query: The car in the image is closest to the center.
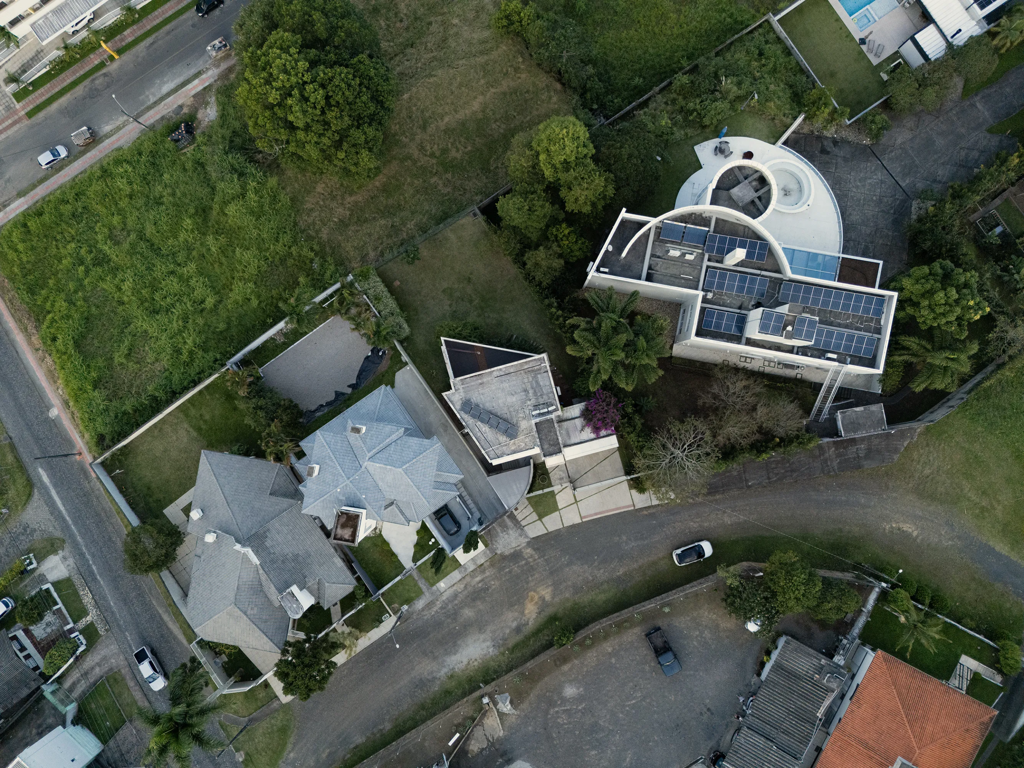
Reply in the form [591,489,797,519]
[434,502,464,542]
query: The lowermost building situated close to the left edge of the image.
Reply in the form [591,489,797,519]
[7,724,105,768]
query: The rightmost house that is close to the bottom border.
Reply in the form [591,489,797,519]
[801,647,999,768]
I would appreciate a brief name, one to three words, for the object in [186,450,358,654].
house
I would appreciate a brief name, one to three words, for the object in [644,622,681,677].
truck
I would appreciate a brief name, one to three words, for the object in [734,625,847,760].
shed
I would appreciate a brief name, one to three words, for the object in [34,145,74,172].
car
